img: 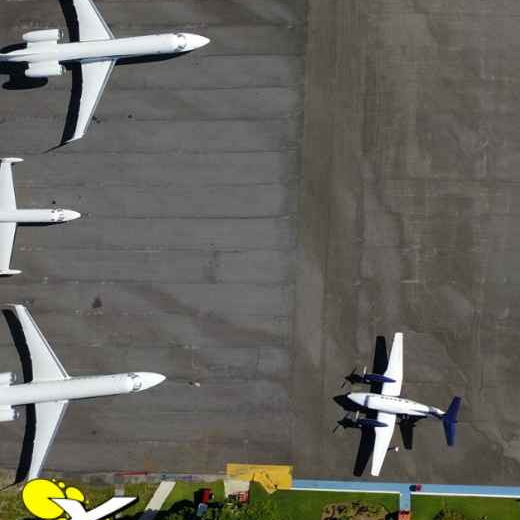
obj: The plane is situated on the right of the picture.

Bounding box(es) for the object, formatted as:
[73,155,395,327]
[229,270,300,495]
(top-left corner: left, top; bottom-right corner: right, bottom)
[348,333,461,474]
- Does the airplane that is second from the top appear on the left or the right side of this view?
left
